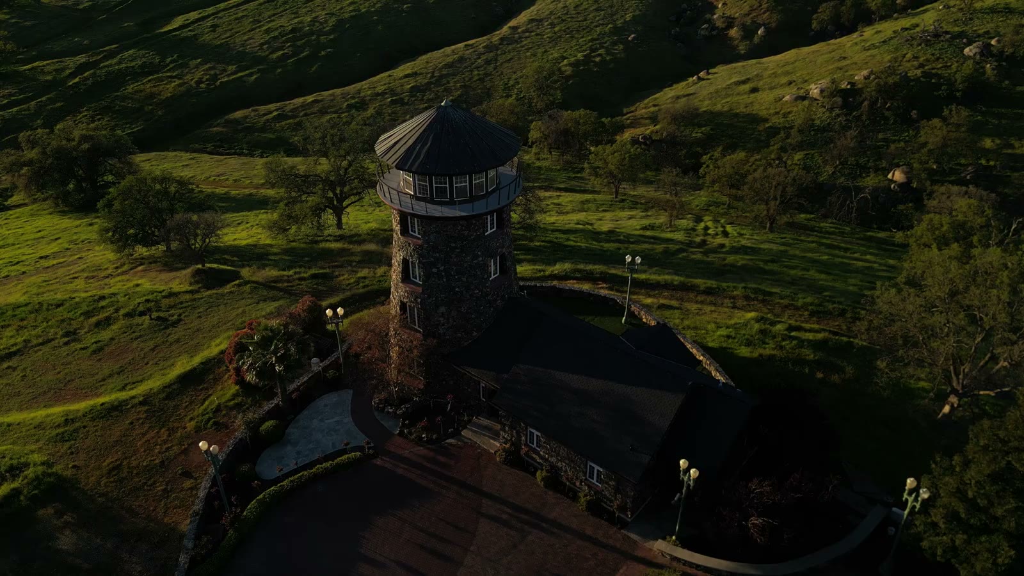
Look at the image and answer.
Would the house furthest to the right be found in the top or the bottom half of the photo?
bottom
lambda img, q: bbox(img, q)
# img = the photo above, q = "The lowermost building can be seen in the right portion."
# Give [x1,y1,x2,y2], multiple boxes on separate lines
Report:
[457,285,777,520]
